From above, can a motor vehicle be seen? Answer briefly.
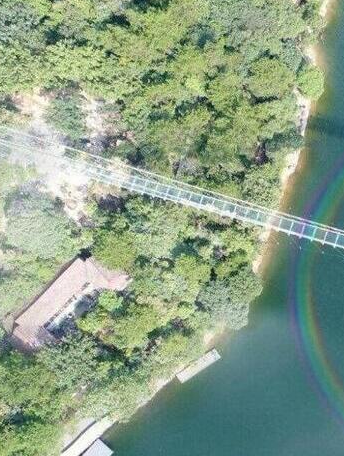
No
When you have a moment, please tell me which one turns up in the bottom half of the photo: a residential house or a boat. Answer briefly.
residential house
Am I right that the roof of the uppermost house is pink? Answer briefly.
No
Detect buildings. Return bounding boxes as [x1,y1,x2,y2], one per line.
[12,251,132,353]
[83,438,114,456]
